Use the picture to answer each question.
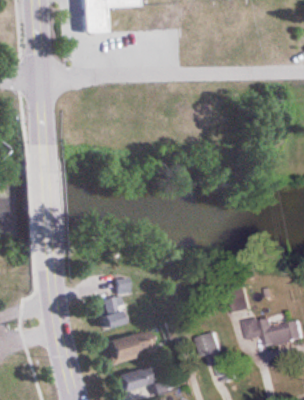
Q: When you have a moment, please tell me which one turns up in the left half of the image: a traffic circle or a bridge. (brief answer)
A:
bridge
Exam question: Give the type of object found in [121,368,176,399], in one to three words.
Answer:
house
